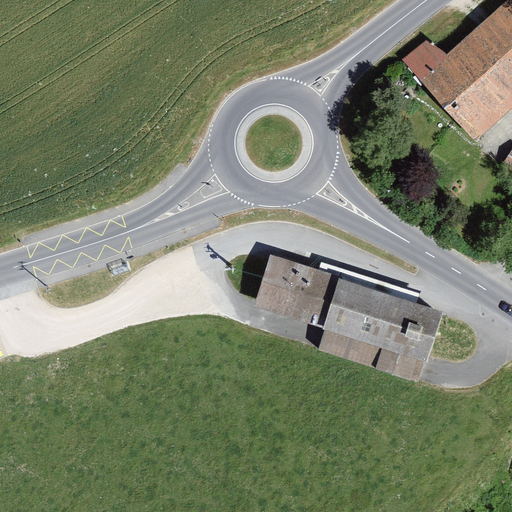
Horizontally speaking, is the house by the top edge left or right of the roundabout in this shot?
right of it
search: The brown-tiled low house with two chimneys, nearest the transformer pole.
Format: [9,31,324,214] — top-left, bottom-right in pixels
[255,254,332,325]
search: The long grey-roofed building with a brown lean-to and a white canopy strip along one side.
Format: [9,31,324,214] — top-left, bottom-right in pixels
[317,262,445,381]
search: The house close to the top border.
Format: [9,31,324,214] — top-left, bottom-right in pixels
[403,0,512,140]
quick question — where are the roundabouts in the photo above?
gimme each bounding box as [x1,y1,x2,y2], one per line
[208,76,340,208]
